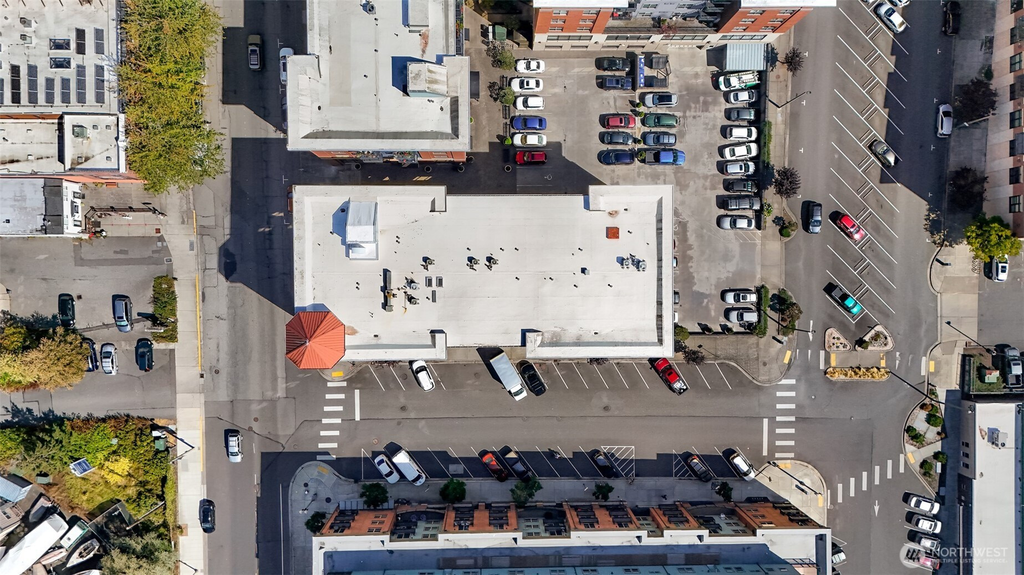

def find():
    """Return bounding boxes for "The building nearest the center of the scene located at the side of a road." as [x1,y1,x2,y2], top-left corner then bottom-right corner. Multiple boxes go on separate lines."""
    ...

[285,185,674,370]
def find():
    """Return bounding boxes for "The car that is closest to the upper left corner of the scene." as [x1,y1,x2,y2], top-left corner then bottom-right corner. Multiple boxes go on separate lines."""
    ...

[246,34,263,71]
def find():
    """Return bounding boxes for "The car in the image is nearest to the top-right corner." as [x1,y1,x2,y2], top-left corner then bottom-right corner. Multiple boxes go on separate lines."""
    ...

[940,0,961,37]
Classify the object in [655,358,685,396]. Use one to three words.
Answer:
truck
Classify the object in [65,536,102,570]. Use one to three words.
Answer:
boat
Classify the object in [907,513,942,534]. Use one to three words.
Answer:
car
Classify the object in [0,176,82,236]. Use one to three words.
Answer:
building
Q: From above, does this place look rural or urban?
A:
urban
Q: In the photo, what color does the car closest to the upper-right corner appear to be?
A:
black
